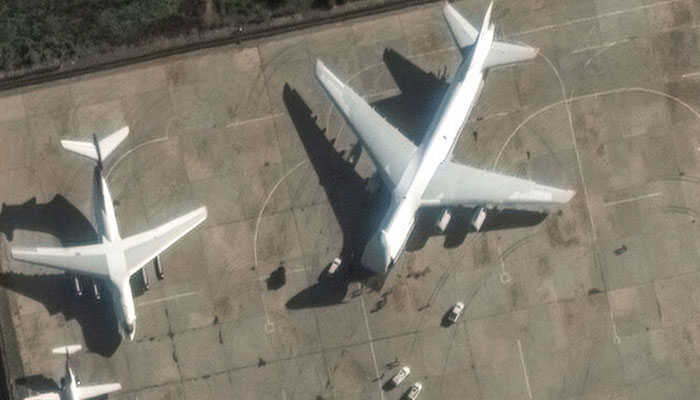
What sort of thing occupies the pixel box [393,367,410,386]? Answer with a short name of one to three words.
car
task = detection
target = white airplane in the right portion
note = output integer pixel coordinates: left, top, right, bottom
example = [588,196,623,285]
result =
[312,0,574,295]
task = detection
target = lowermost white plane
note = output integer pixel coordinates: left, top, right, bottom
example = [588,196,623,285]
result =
[22,347,120,400]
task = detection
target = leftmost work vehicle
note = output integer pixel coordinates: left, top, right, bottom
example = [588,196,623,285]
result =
[275,269,288,287]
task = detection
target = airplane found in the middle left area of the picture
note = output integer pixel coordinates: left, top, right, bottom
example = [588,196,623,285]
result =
[11,126,206,338]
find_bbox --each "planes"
[312,0,574,295]
[22,347,120,400]
[11,126,206,338]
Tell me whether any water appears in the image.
No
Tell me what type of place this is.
airport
